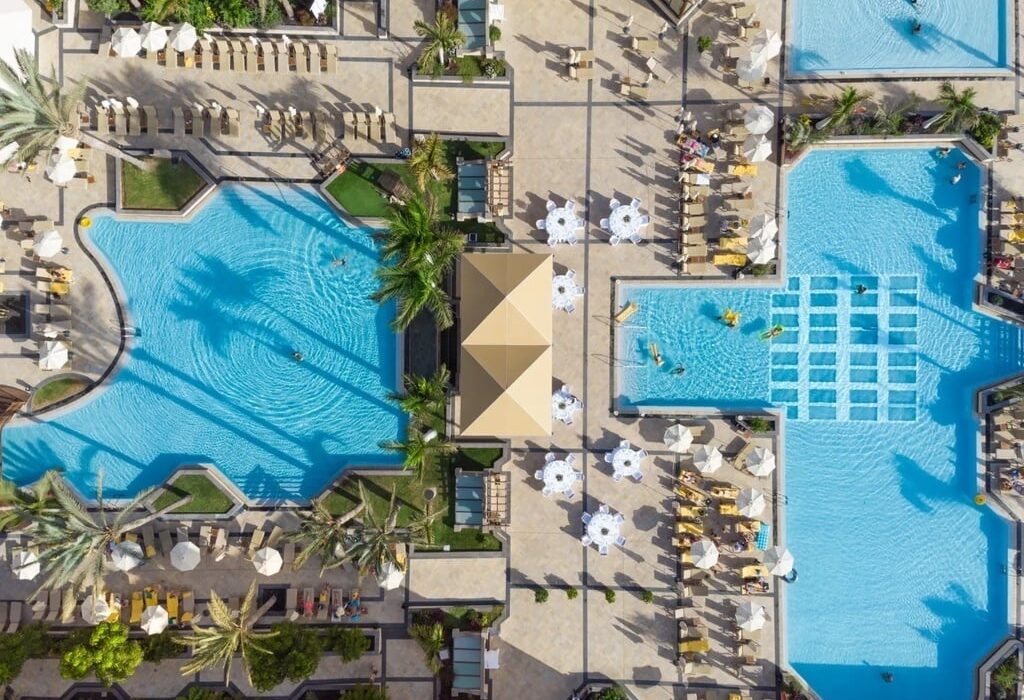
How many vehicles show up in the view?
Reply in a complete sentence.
There are no vehicles in this view.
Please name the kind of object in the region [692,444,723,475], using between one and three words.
umbrella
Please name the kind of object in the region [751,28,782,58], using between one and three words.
umbrella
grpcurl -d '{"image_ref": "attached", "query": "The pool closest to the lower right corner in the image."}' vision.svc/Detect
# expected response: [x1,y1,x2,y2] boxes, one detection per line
[622,150,1024,700]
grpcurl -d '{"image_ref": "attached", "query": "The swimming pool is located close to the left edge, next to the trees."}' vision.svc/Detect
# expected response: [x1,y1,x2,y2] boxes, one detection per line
[5,185,396,502]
